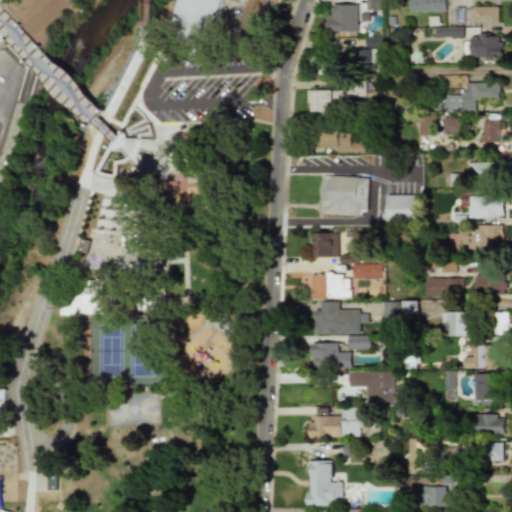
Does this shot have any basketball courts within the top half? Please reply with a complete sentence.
No, I see no basketball court within the top half.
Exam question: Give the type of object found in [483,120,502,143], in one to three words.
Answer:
house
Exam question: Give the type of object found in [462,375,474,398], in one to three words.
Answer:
swimming pool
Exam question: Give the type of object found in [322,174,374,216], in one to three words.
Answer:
building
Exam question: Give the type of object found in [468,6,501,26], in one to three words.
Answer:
house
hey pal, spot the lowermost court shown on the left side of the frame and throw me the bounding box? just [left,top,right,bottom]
[108,394,162,424]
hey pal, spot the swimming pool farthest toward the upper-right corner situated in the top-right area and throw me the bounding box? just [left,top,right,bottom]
[436,42,454,62]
